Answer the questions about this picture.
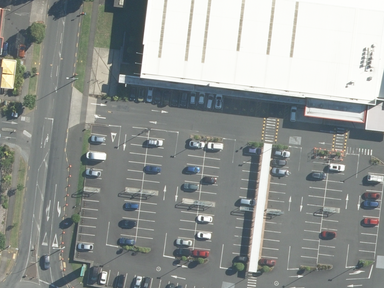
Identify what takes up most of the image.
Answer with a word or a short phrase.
paved ground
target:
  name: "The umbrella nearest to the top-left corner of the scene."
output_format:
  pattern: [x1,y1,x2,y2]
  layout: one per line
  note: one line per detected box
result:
[2,59,17,74]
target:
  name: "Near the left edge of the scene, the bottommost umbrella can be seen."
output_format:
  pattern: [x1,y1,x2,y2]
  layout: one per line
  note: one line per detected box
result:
[0,74,15,89]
